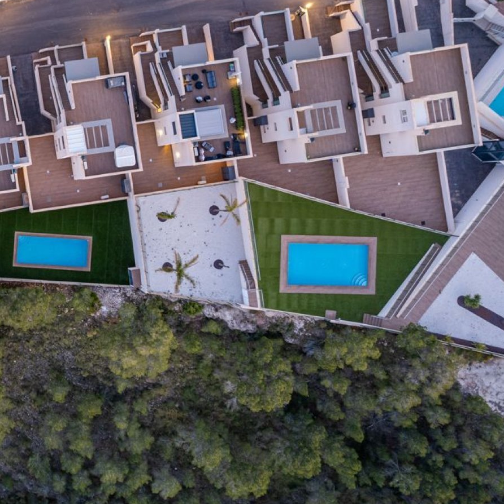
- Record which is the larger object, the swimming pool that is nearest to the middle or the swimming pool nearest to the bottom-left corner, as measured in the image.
the swimming pool that is nearest to the middle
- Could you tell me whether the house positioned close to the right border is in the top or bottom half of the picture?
top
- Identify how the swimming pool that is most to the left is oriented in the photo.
from left to right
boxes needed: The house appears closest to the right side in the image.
[362,29,482,156]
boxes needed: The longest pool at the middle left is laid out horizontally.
[13,232,93,272]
